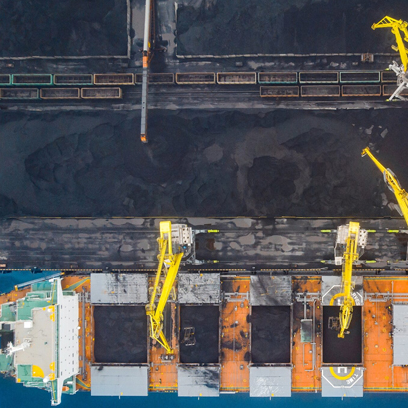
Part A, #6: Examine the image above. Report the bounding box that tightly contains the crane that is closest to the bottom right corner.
[320,221,377,337]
